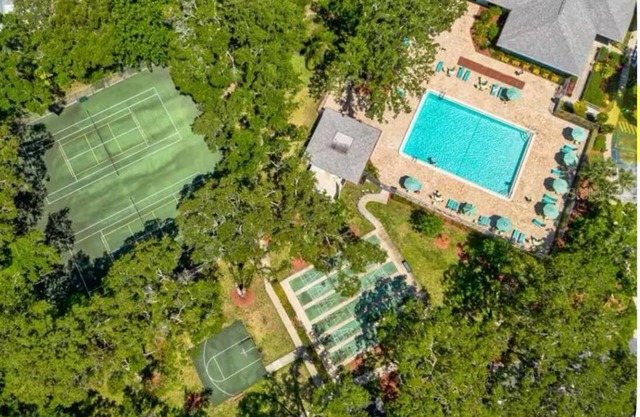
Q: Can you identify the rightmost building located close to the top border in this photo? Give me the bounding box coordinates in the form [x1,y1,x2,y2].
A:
[470,0,640,78]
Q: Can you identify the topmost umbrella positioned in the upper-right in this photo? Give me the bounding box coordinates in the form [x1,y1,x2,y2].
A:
[504,86,519,101]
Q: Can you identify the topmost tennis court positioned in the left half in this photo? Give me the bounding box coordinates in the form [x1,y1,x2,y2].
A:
[11,55,221,224]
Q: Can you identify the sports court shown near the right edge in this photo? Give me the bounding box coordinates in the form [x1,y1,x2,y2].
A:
[612,126,640,171]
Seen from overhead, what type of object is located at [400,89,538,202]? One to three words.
swimming pool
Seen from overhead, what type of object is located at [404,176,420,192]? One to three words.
umbrella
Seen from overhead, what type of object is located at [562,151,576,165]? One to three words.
umbrella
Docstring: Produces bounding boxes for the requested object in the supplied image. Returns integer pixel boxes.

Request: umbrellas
[562,151,576,165]
[462,203,476,216]
[496,216,511,231]
[569,126,584,141]
[551,178,567,193]
[504,86,519,101]
[404,176,420,192]
[543,204,558,218]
